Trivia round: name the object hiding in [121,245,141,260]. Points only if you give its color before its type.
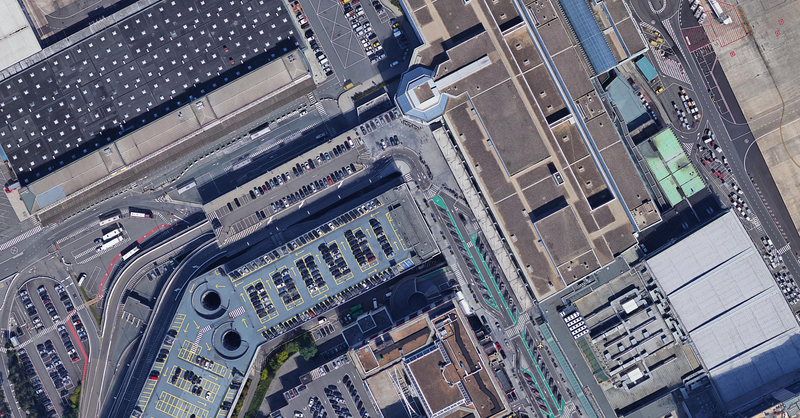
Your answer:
white vehicle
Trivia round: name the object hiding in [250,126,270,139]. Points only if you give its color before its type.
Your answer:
white vehicle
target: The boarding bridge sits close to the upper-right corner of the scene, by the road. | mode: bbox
[710,0,736,30]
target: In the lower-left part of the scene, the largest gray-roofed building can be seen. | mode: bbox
[123,296,151,319]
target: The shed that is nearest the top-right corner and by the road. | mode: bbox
[634,55,658,81]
